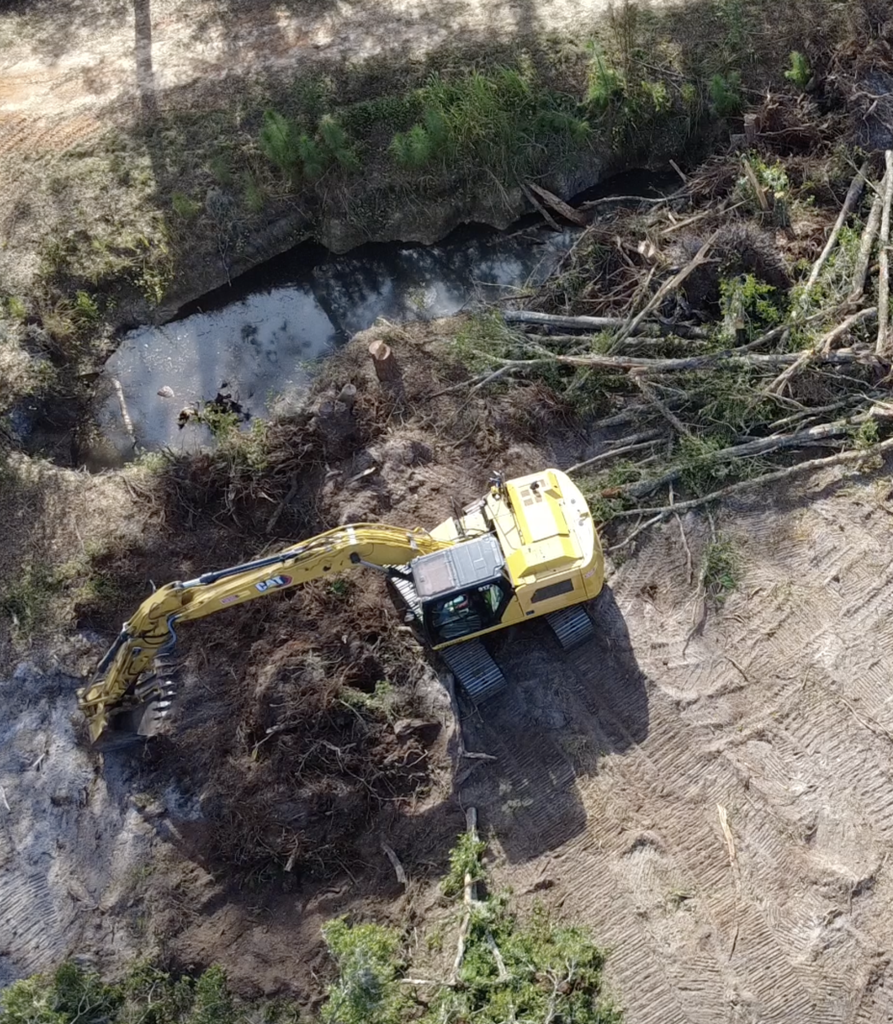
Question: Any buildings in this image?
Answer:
No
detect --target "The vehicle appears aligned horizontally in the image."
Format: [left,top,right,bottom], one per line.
[68,470,604,753]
